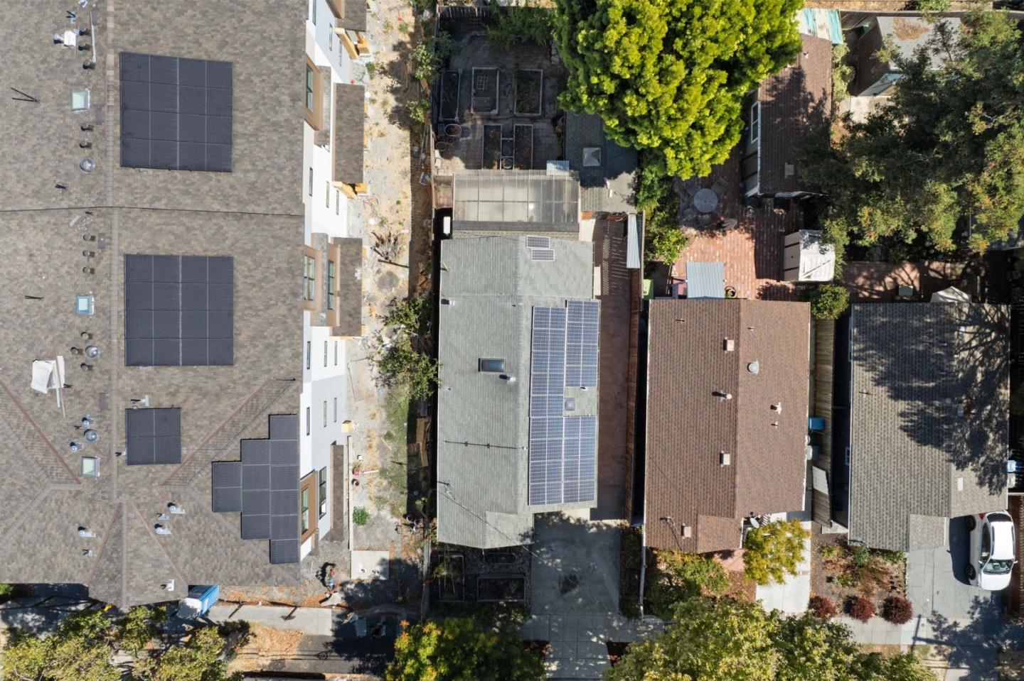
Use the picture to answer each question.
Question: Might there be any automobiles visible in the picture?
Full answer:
Yes, there's an automobile down there.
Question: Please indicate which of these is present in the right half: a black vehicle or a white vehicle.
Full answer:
Visible in the right half is a white vehicle.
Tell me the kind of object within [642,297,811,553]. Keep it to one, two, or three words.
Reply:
house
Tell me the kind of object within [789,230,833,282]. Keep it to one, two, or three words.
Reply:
shed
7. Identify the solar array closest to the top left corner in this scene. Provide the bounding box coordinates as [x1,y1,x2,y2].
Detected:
[121,53,234,171]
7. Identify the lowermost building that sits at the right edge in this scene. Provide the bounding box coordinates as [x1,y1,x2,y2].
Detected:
[832,303,1012,553]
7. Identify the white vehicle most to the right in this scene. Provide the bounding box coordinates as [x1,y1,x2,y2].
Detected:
[970,514,1019,592]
